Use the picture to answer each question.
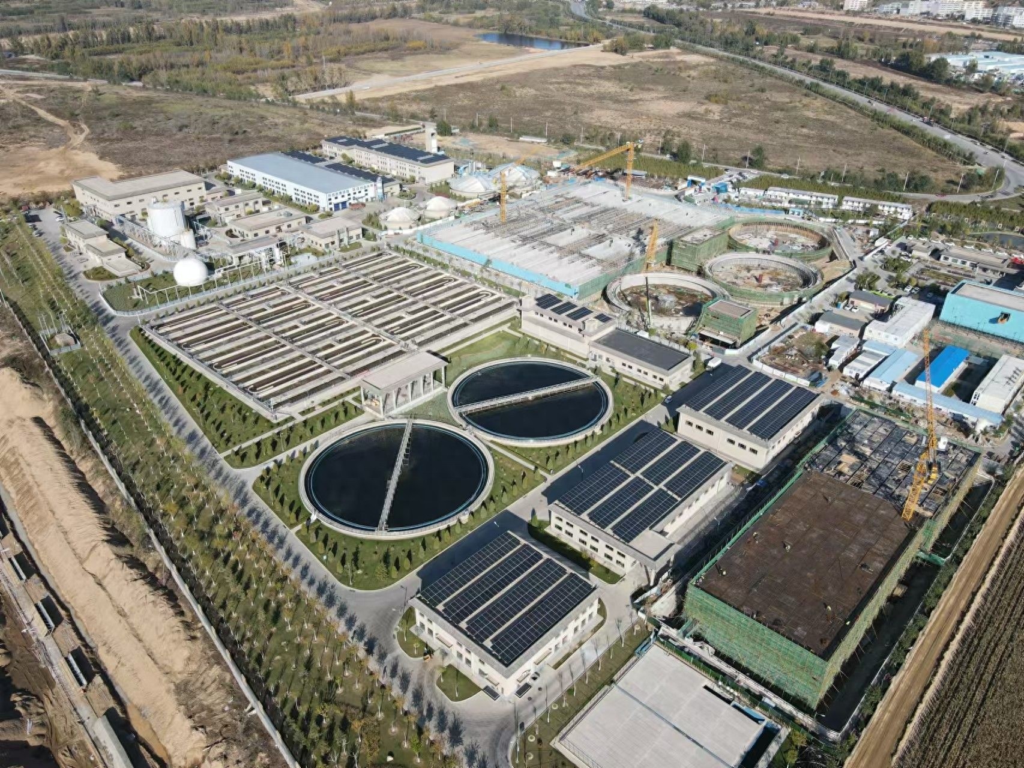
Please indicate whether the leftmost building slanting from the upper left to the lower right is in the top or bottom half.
top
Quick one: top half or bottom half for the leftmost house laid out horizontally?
top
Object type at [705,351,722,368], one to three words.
vehicle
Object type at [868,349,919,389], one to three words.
shed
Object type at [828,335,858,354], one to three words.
building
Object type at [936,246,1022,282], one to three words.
building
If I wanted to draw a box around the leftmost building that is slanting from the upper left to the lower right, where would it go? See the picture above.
[62,220,143,281]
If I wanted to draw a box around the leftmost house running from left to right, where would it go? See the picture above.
[70,171,210,220]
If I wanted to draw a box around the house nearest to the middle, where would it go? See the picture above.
[517,293,618,357]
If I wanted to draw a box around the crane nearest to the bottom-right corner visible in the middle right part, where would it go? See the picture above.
[900,319,944,528]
